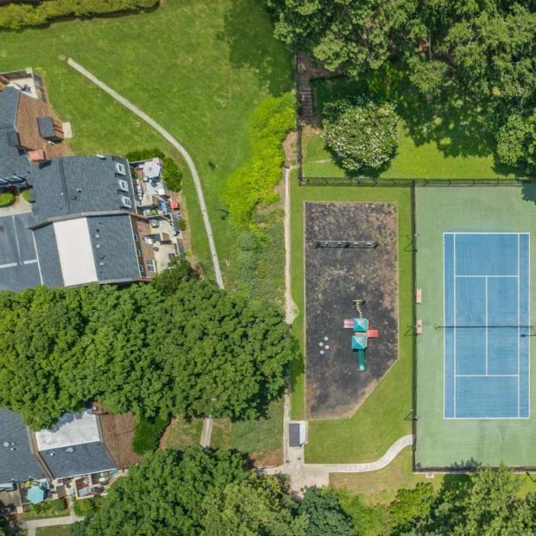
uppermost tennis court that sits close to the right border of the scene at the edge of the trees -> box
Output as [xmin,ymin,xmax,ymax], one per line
[417,186,536,465]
